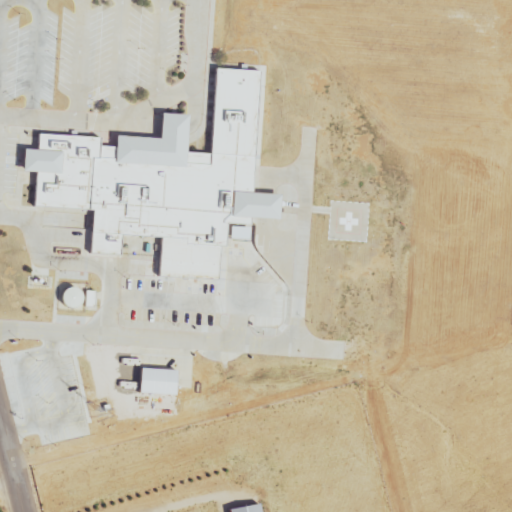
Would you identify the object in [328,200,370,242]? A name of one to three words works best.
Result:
helipad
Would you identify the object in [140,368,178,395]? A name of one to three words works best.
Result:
building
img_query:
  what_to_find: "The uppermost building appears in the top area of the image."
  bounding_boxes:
[24,64,282,278]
